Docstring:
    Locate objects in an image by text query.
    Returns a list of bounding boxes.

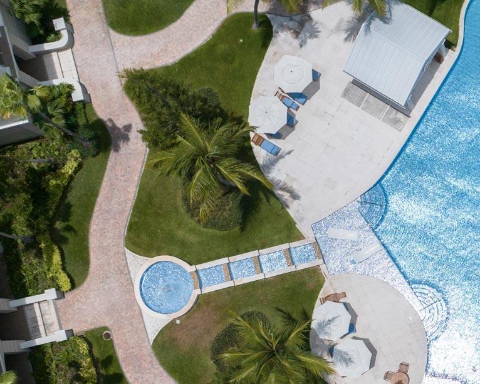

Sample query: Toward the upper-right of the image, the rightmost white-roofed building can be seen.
[342,0,451,114]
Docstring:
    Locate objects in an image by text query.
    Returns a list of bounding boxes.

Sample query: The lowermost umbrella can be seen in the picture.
[335,338,372,375]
